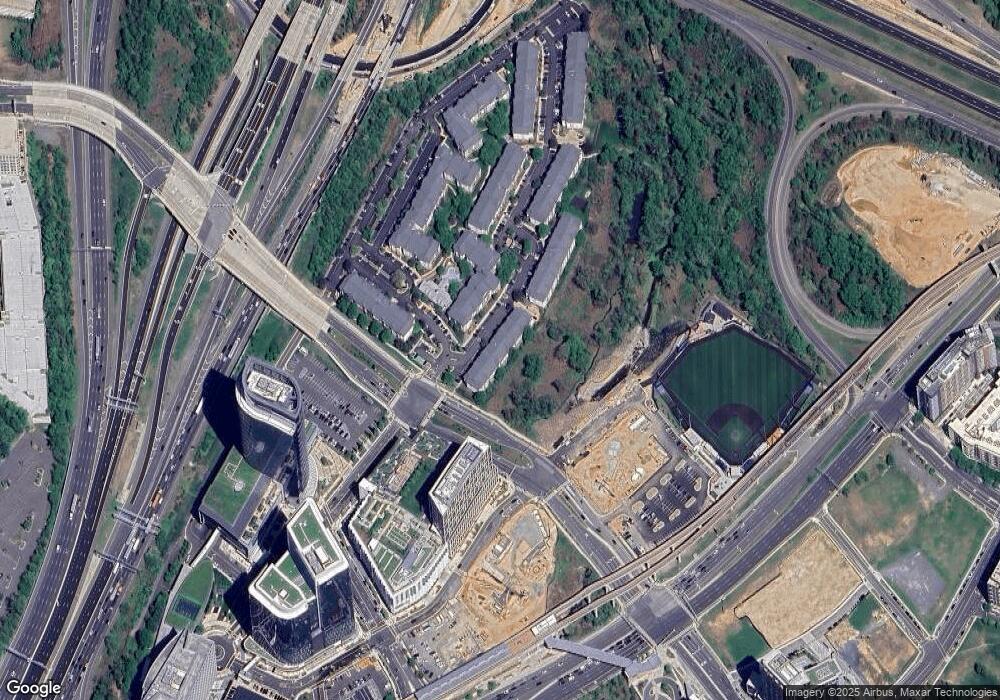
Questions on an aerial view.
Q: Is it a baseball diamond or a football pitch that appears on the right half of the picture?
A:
baseball diamond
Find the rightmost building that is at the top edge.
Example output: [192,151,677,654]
[562,31,589,129]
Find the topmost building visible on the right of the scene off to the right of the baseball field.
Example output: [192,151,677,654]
[916,321,1000,421]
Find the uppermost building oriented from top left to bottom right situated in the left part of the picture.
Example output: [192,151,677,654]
[339,270,416,341]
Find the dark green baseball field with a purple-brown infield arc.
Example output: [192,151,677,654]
[657,322,814,466]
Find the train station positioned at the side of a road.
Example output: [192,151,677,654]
[414,616,558,700]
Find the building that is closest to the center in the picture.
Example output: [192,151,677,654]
[463,306,532,392]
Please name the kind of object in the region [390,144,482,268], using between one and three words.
building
